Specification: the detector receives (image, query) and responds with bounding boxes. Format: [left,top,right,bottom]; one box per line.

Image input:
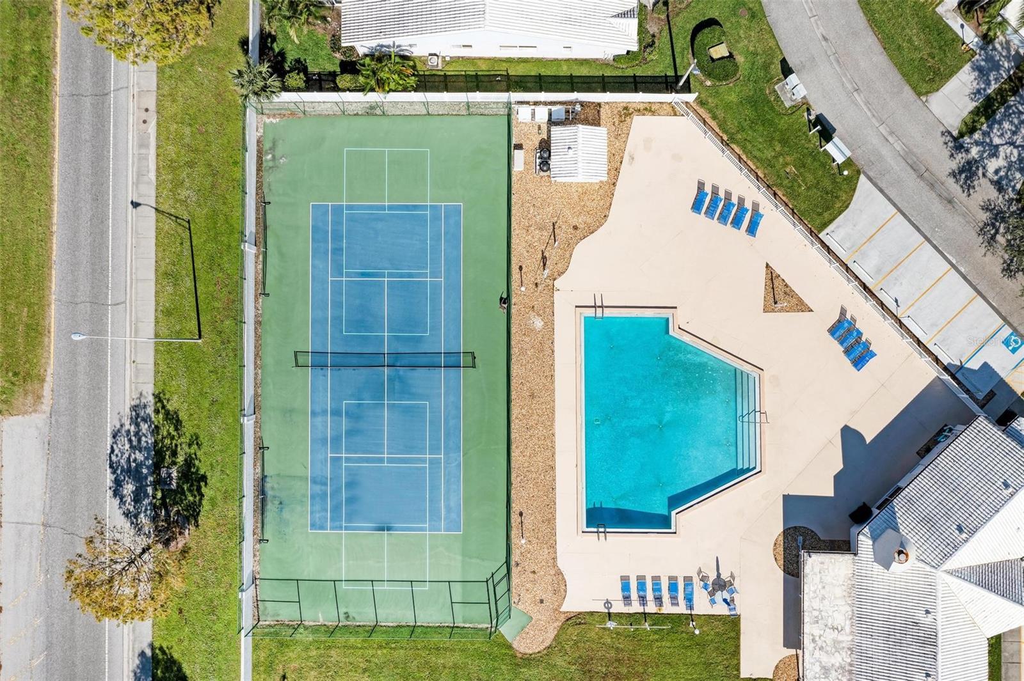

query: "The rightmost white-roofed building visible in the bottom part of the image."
[796,412,1024,681]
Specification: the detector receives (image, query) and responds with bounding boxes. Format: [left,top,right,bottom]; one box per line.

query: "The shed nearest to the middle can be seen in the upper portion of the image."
[551,124,608,185]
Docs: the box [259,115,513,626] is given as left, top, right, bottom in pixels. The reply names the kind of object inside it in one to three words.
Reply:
tennis court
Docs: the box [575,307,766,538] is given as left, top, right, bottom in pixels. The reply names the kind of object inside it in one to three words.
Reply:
swimming pool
